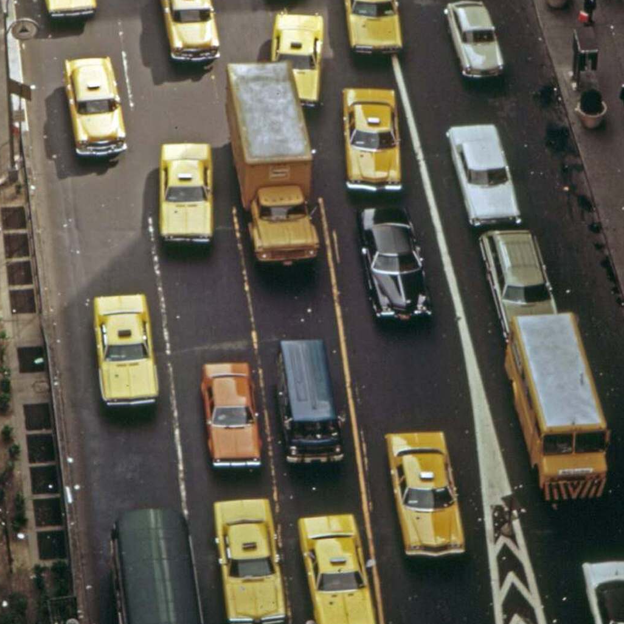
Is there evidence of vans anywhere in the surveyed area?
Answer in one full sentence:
Yes, the image includes a van.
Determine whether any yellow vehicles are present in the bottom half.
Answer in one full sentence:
Yes, looking in the bottom half, one can make out a yellow vehicle.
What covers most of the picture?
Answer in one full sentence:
Most of the picture is covered by paved ground.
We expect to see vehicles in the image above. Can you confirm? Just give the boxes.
[63,59,127,157]
[346,0,401,53]
[343,91,401,194]
[227,61,318,269]
[296,510,375,624]
[199,361,264,467]
[443,0,505,78]
[162,0,220,61]
[211,495,287,624]
[157,142,214,241]
[478,238,554,357]
[583,561,624,624]
[276,335,348,466]
[447,123,521,225]
[271,14,322,105]
[47,0,97,18]
[358,209,429,323]
[506,314,609,510]
[92,294,159,406]
[384,429,465,556]
[118,513,204,624]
